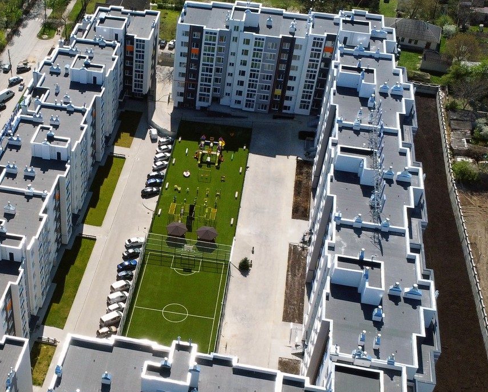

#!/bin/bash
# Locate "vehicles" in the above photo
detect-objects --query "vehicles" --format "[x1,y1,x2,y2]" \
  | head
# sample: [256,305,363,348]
[152,151,171,162]
[157,137,173,145]
[114,269,134,279]
[107,289,128,303]
[3,66,11,73]
[151,160,169,170]
[95,323,116,337]
[140,185,161,197]
[0,101,8,109]
[106,299,125,309]
[144,177,165,186]
[8,76,23,86]
[155,144,171,153]
[147,170,166,179]
[123,237,143,249]
[15,65,32,74]
[150,128,157,140]
[96,306,125,325]
[108,277,130,292]
[116,258,137,270]
[122,249,140,260]
[0,86,16,101]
